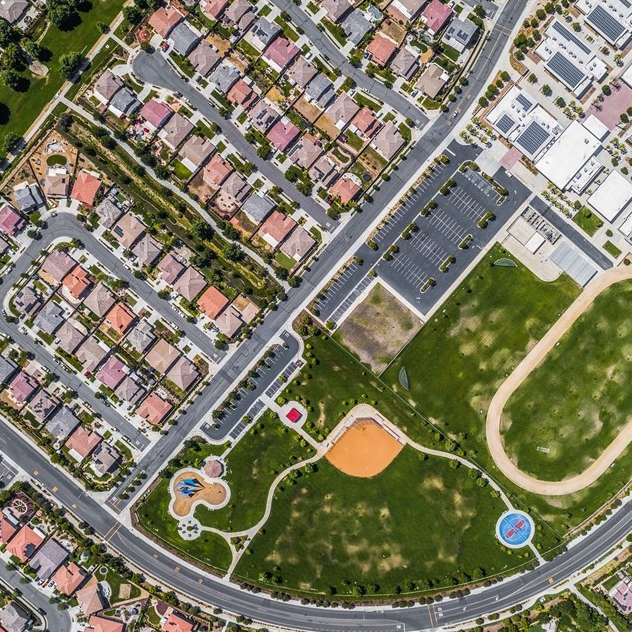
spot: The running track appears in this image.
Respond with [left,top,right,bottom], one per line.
[486,265,632,493]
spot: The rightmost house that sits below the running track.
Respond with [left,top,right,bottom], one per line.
[605,578,632,619]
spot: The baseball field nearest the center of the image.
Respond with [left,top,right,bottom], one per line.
[319,404,410,478]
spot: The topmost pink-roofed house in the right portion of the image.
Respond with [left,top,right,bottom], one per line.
[419,2,454,33]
